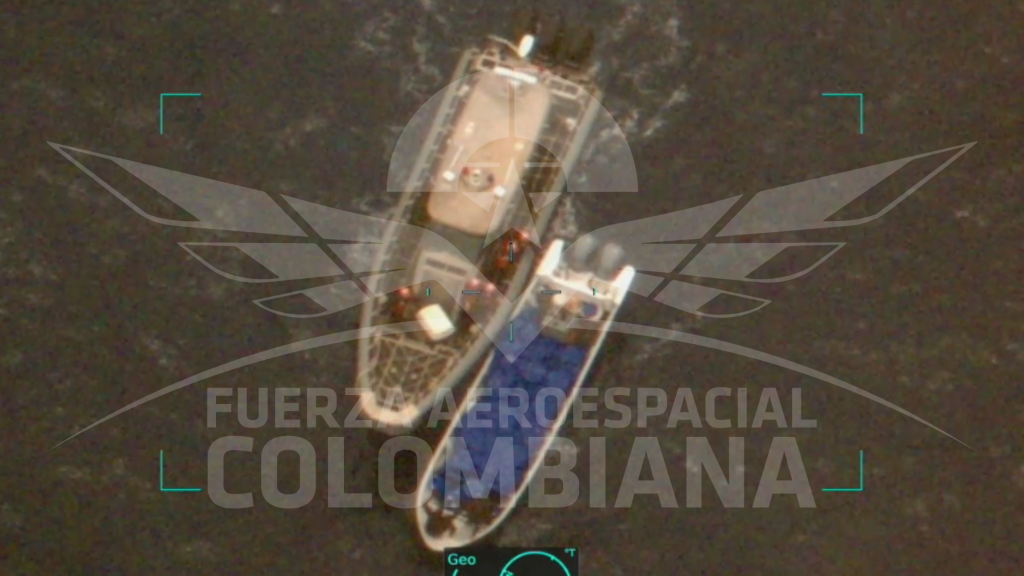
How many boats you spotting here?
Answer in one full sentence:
The photo contains 2 boats.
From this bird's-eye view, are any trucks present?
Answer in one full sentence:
No, I find no truck anywhere in the image.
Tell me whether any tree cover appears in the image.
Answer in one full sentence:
No, there's no tree cover in this view.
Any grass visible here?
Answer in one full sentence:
No, the picture contains no grass.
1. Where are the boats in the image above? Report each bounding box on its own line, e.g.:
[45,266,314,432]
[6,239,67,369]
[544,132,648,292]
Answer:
[357,22,606,425]
[418,234,637,549]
